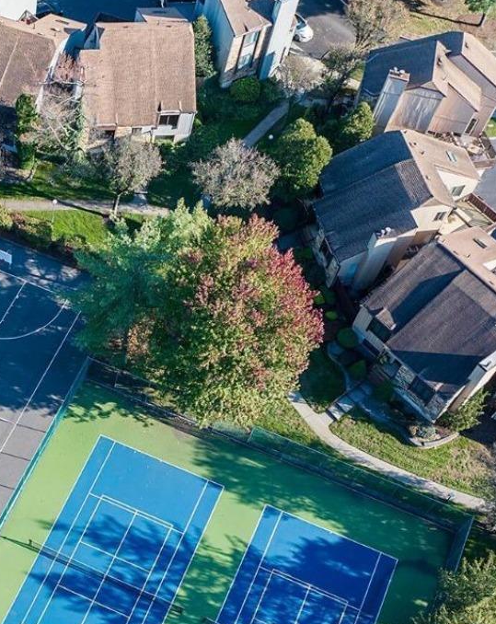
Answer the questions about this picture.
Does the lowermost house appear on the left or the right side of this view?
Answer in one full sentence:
It is on the right.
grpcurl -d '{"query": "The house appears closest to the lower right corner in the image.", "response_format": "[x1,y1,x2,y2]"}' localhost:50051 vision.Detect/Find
[353,229,496,421]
